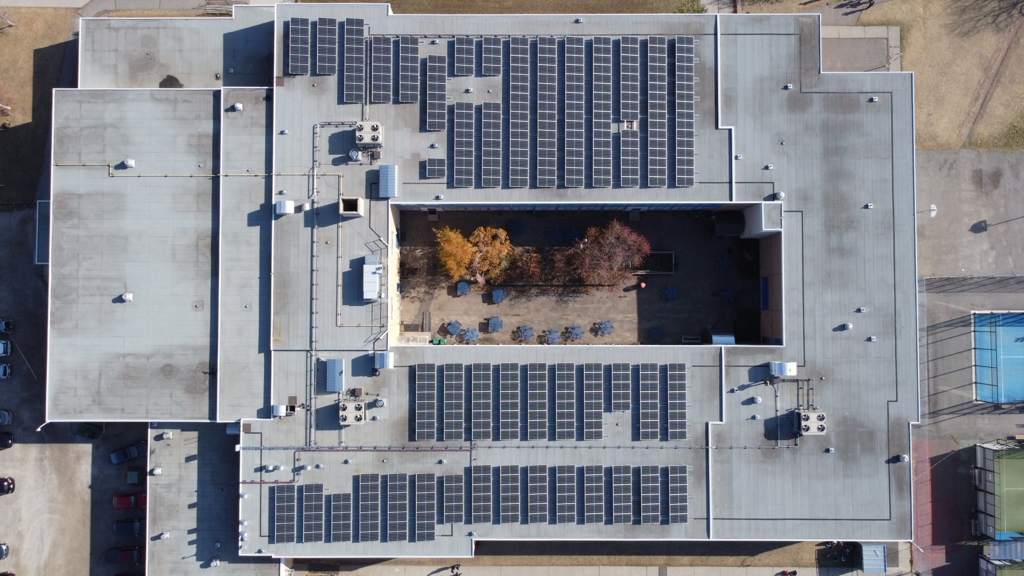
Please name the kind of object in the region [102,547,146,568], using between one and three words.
truck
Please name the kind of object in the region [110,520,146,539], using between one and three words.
car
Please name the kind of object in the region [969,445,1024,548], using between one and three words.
sports court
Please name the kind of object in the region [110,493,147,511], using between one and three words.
car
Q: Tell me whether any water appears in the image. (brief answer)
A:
No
